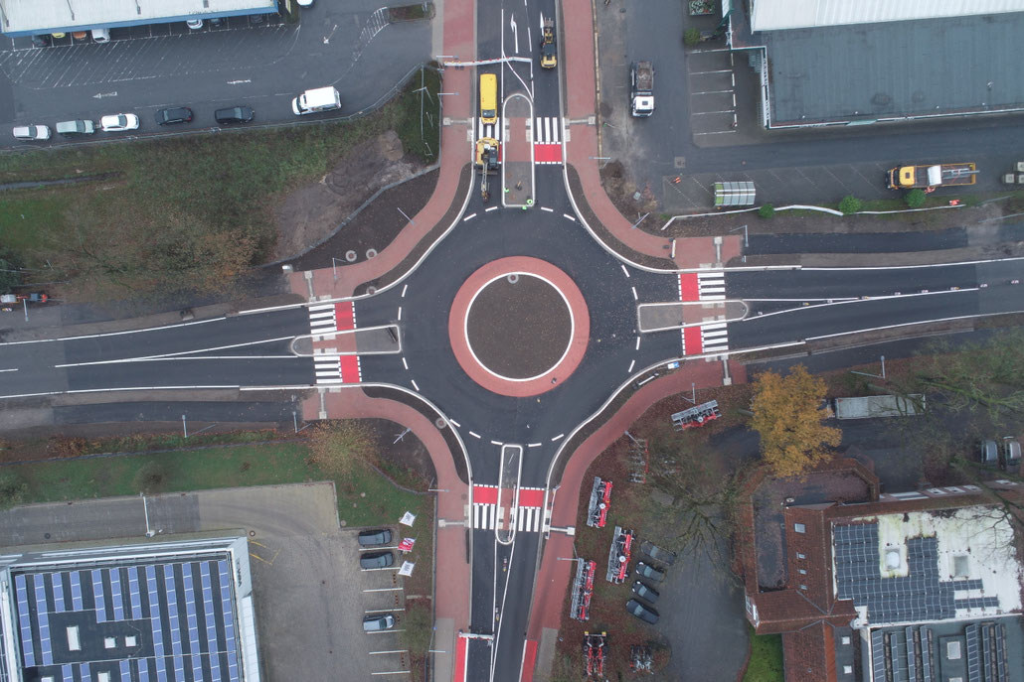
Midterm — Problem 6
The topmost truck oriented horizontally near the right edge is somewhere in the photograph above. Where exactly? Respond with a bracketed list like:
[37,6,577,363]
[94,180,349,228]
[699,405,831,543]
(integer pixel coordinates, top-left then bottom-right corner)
[881,163,979,190]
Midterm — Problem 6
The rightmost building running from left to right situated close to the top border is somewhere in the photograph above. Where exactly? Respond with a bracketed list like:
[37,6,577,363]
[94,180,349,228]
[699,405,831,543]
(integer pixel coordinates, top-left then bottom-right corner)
[724,0,1024,137]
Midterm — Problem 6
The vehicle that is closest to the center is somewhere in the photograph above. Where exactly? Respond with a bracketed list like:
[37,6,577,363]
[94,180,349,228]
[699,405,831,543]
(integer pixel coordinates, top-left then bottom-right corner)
[477,138,498,199]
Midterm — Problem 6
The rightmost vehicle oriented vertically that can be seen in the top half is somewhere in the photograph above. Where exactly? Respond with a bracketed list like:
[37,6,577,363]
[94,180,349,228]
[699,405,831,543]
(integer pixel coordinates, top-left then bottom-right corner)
[630,62,656,120]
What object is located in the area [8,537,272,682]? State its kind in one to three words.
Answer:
building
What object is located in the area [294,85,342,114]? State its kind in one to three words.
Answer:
van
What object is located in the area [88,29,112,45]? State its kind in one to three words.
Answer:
car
